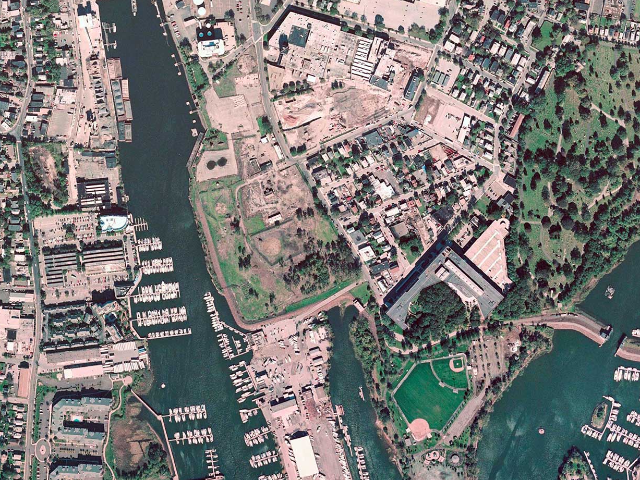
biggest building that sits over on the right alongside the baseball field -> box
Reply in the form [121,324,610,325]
[391,246,505,331]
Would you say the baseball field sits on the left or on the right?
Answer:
right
